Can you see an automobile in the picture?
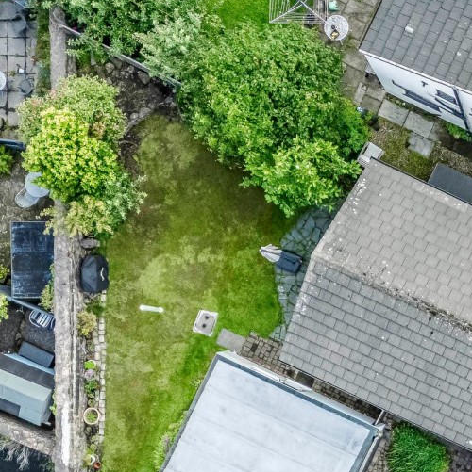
No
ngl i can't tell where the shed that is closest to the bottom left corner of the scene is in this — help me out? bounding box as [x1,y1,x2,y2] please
[0,352,56,426]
